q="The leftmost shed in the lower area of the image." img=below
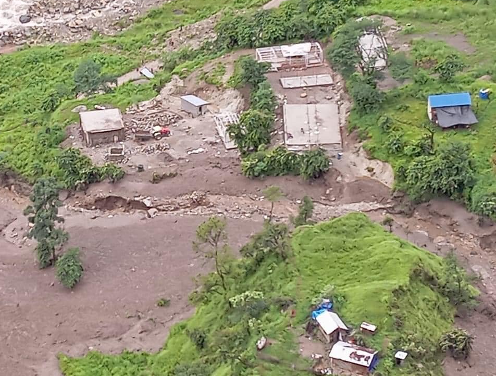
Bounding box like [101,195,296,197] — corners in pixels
[317,310,347,343]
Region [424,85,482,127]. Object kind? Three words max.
house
